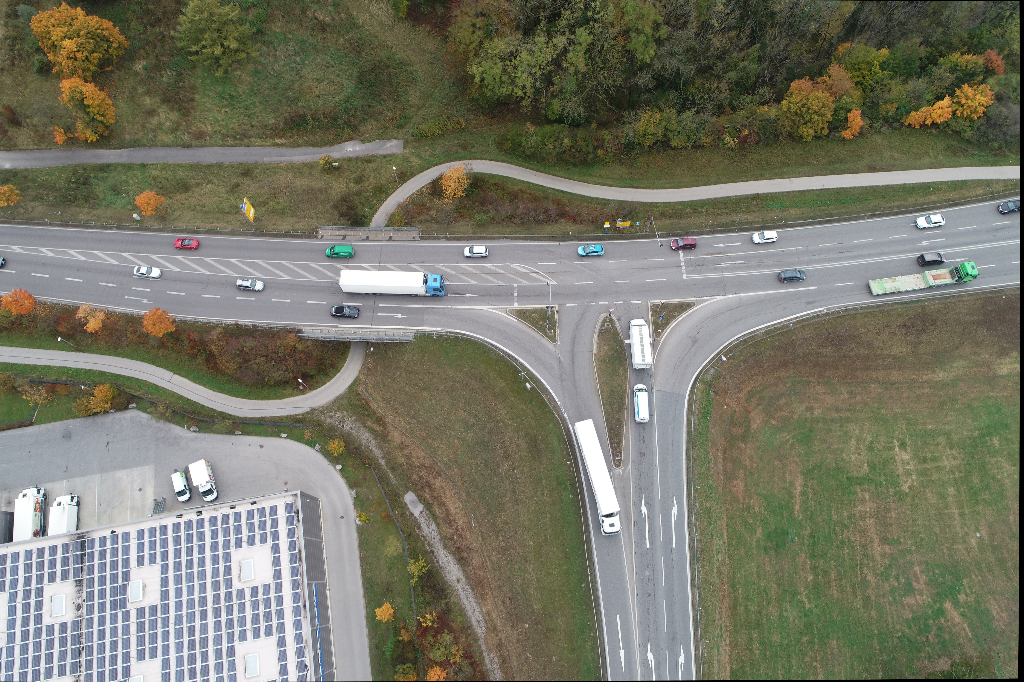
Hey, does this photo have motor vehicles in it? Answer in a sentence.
Yes, looking at the shot, I can spot a motor vehicle.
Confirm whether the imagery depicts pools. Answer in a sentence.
No, there isn't any pool down there.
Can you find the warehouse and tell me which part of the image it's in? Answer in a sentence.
The warehouse sits in the bottom left section of the image.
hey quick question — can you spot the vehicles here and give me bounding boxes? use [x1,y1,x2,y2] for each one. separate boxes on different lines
[325,244,356,258]
[0,257,7,269]
[578,244,605,257]
[48,489,82,533]
[913,213,948,228]
[573,420,621,534]
[330,305,360,318]
[669,237,697,251]
[777,269,806,283]
[13,483,49,539]
[169,472,191,503]
[234,278,266,292]
[132,266,163,279]
[751,231,780,244]
[174,237,201,250]
[464,245,489,258]
[340,271,445,295]
[186,462,218,504]
[868,262,980,295]
[915,252,946,267]
[631,319,651,371]
[633,385,650,423]
[995,200,1024,215]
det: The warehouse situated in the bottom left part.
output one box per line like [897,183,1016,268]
[0,491,336,682]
